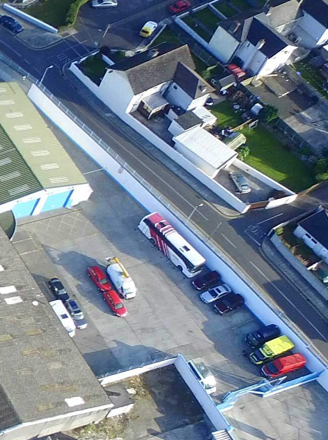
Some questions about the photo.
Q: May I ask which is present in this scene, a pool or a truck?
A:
truck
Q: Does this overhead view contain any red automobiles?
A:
Yes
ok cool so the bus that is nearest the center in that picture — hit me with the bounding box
[133,214,205,279]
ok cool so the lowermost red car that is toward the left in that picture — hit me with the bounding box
[103,292,127,316]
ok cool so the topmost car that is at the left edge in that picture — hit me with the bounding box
[0,19,22,34]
